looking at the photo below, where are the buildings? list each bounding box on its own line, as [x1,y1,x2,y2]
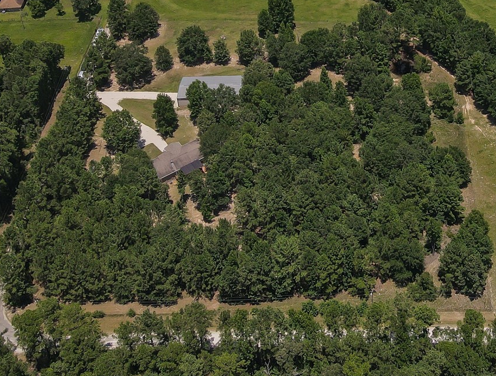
[177,75,245,110]
[150,142,208,186]
[0,0,23,17]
